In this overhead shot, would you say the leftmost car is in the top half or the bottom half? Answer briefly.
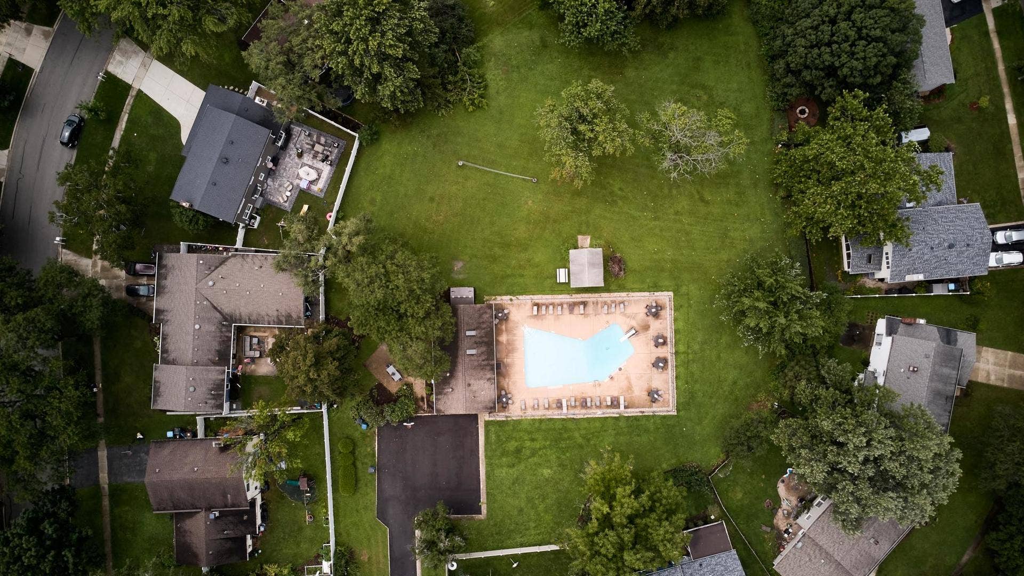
top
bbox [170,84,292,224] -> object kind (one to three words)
house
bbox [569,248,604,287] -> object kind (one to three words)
shed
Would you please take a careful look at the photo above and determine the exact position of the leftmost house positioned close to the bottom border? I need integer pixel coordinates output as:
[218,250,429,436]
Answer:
[144,436,264,574]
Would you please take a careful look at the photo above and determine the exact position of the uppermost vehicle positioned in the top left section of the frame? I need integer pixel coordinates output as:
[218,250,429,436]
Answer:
[57,113,86,150]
